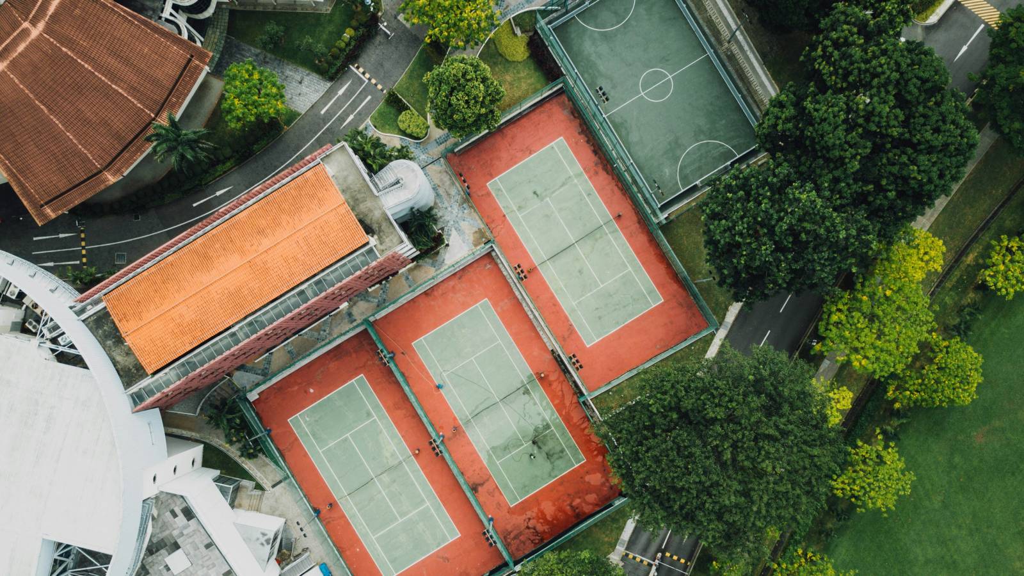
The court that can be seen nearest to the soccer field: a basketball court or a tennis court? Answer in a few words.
tennis court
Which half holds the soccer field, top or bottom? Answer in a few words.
top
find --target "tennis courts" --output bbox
[370,254,627,559]
[247,332,501,576]
[449,90,711,393]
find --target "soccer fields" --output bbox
[555,0,764,202]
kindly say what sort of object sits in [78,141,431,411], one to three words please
building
